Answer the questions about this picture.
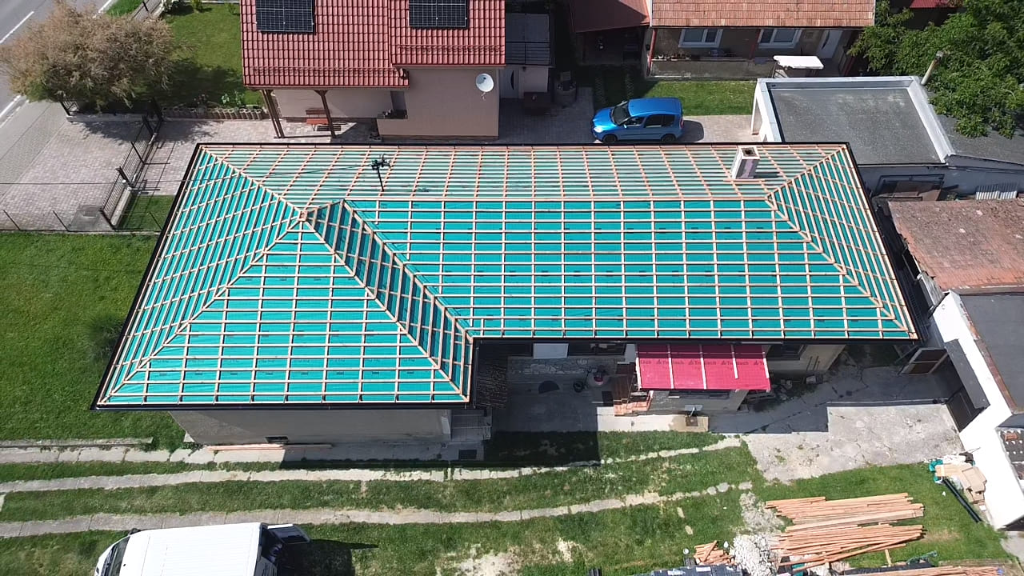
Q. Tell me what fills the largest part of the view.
buildings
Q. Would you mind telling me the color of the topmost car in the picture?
blue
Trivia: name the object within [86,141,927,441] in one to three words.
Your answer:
house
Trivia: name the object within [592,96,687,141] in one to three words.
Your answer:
car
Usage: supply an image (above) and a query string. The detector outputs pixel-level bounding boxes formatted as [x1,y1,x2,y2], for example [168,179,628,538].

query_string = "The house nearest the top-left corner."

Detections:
[240,0,507,138]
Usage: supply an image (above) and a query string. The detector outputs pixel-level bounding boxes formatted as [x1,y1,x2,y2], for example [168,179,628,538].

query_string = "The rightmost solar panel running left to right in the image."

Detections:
[409,0,467,28]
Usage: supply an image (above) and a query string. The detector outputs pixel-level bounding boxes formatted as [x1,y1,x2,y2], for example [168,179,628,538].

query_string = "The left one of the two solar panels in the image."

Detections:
[254,0,314,32]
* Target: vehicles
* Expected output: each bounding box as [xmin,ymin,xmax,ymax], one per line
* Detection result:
[92,521,311,576]
[592,96,687,141]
